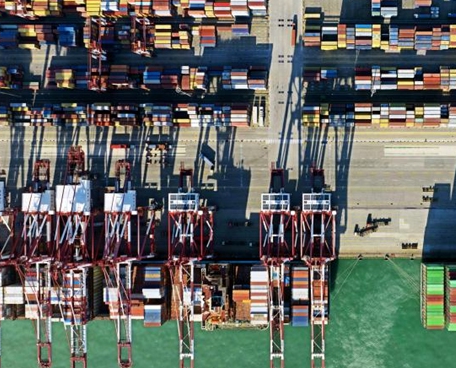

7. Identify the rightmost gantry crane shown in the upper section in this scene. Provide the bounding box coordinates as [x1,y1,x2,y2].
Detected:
[131,16,159,60]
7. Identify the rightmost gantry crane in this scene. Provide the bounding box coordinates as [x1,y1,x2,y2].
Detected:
[299,160,345,368]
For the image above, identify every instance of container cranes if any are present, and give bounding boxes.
[87,16,117,60]
[0,180,52,263]
[299,160,345,368]
[9,163,96,367]
[48,147,126,368]
[97,163,169,367]
[258,160,304,368]
[164,160,228,368]
[83,91,113,132]
[131,16,159,60]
